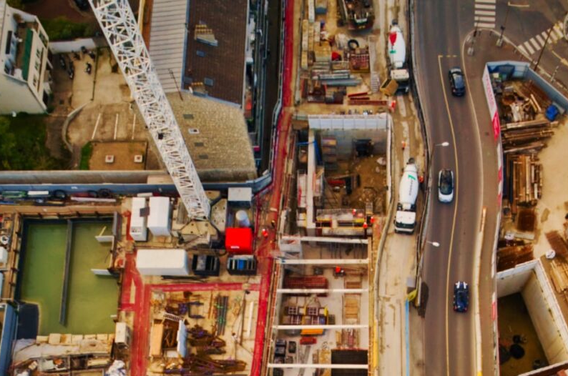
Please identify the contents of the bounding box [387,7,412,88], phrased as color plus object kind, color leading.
white truck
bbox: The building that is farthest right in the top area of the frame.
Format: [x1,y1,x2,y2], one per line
[145,0,269,165]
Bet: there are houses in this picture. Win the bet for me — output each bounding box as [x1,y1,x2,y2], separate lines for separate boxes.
[145,0,269,165]
[0,0,64,108]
